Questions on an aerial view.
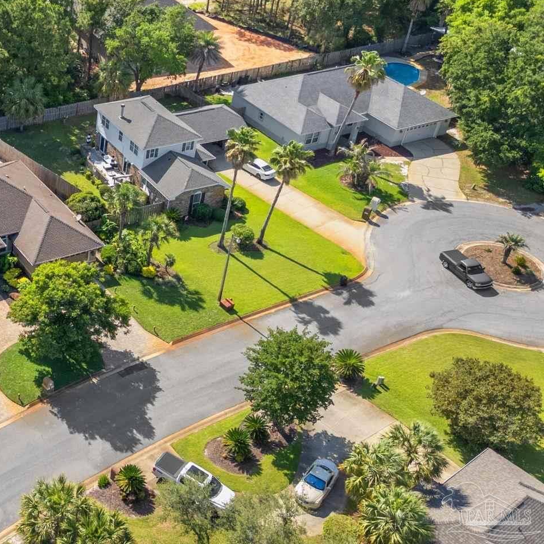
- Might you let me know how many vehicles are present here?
4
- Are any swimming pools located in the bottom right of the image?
No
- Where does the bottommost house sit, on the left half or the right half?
right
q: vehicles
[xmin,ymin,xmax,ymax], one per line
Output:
[244,156,280,180]
[295,452,339,509]
[435,247,498,289]
[149,448,239,508]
